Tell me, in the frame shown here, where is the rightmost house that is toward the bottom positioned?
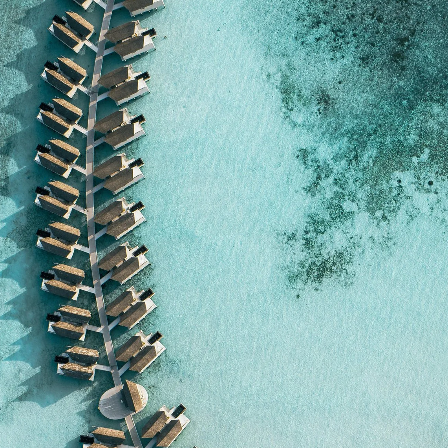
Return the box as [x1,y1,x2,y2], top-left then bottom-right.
[143,406,194,448]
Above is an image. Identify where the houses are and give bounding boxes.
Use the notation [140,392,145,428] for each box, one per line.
[35,96,86,144]
[115,331,169,375]
[93,196,150,242]
[38,262,87,304]
[93,108,150,153]
[143,406,194,448]
[84,426,127,448]
[98,242,153,287]
[105,286,161,332]
[97,63,153,109]
[122,0,168,22]
[32,178,83,224]
[47,304,93,344]
[32,137,84,182]
[56,345,102,382]
[46,10,98,59]
[38,55,91,104]
[103,20,158,66]
[34,220,84,264]
[91,152,147,198]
